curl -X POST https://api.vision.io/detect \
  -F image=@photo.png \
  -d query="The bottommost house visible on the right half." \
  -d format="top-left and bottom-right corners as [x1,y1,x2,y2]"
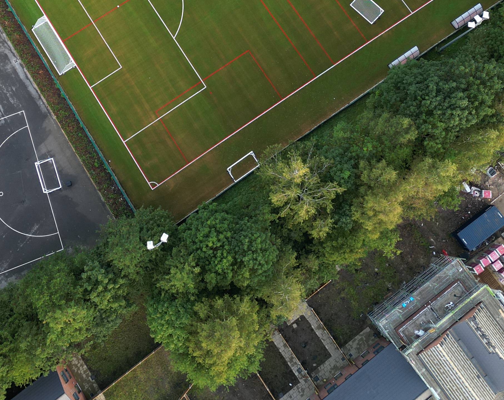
[298,340,430,400]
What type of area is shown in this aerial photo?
sports ground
